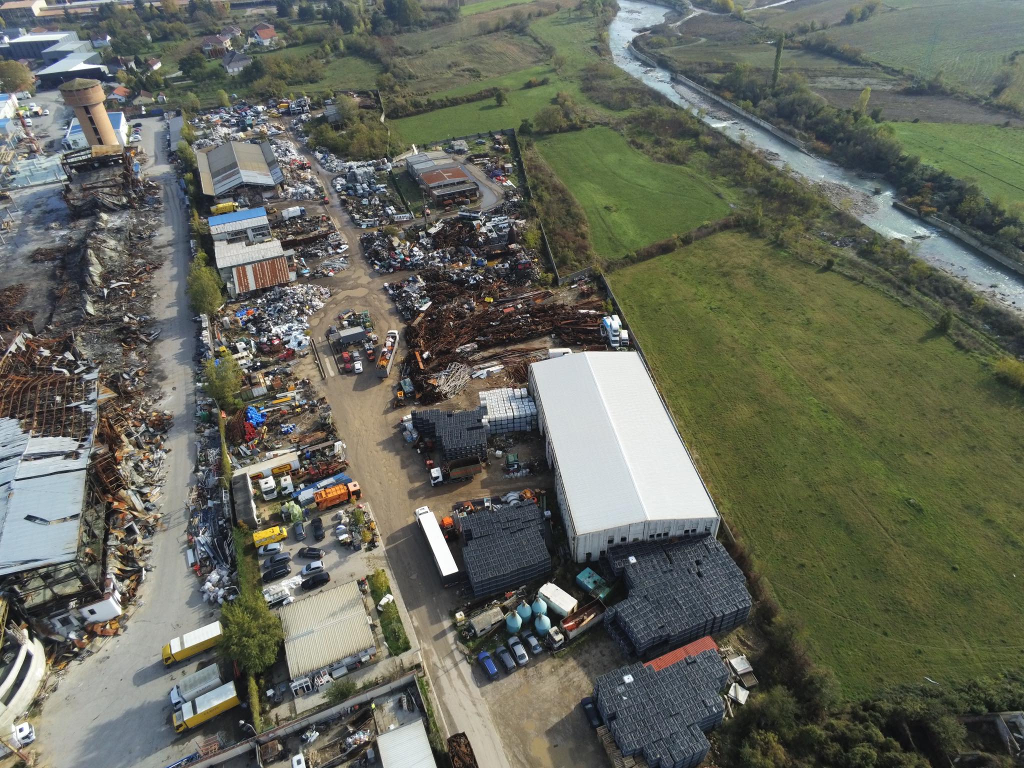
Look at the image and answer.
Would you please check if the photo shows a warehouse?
Yes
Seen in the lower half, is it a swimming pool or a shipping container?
shipping container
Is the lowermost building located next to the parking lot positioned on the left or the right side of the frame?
left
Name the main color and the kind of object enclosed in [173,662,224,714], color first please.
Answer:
gray truck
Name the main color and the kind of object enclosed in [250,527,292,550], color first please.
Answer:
yellow vehicle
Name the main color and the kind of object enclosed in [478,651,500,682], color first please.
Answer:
blue car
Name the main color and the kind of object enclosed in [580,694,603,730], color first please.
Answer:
black car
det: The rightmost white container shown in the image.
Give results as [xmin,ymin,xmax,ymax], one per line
[541,583,580,620]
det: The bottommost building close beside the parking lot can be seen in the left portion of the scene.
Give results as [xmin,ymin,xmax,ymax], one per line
[277,579,386,689]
